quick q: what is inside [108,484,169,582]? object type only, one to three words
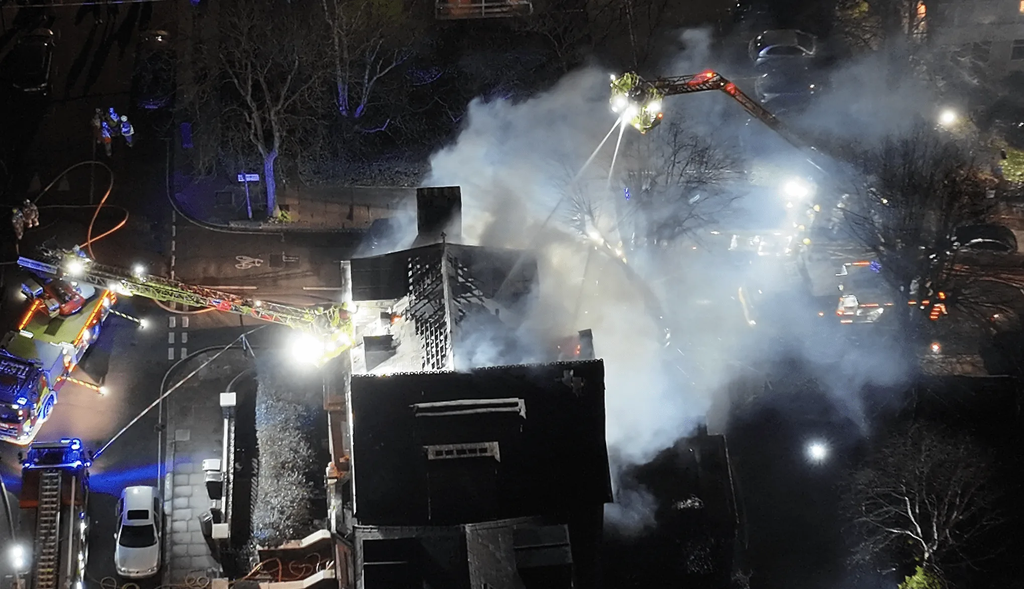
car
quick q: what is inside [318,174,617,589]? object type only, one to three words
house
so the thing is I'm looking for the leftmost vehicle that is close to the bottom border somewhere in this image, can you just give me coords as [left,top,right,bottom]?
[12,435,105,589]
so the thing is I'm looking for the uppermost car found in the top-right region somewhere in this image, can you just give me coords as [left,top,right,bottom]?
[745,30,820,69]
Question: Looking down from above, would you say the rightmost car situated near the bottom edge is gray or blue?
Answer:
gray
